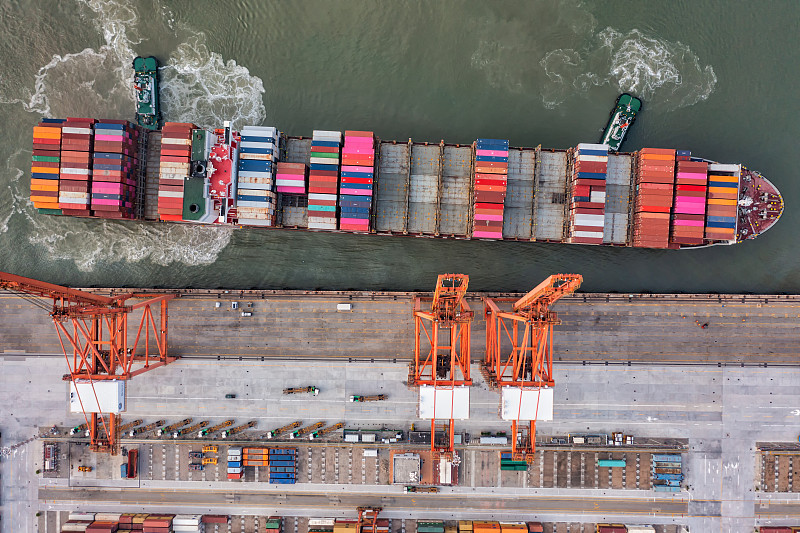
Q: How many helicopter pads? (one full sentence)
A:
There are no helicopter pads in the image.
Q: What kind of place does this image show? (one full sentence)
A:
This looks like a port.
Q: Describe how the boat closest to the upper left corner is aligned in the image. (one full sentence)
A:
In this picture, the boat closest to the upper left corner lies up and down.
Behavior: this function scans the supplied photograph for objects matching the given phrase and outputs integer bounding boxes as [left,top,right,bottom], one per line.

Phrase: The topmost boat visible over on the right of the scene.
[594,90,643,152]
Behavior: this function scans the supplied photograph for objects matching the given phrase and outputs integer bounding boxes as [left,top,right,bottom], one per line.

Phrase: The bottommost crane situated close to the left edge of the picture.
[0,269,192,460]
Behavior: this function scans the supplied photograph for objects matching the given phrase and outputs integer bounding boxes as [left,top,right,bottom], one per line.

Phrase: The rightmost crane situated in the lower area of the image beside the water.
[473,270,584,467]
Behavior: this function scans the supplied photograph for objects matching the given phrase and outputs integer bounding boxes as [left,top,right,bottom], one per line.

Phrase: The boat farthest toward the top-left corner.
[131,53,164,130]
